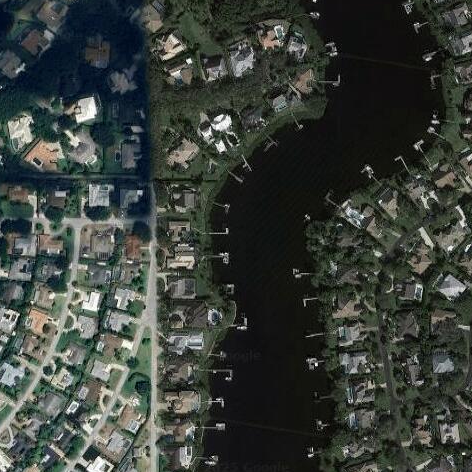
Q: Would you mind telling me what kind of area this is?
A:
residential area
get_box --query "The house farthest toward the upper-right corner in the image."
[444,7,471,27]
